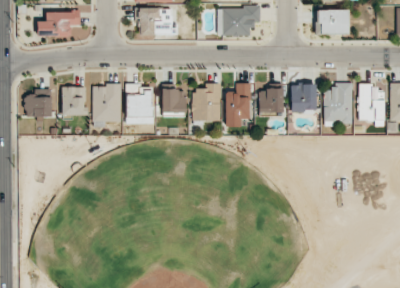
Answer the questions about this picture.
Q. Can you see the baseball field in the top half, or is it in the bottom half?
bottom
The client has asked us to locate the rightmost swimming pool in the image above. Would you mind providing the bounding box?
[296,118,315,130]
